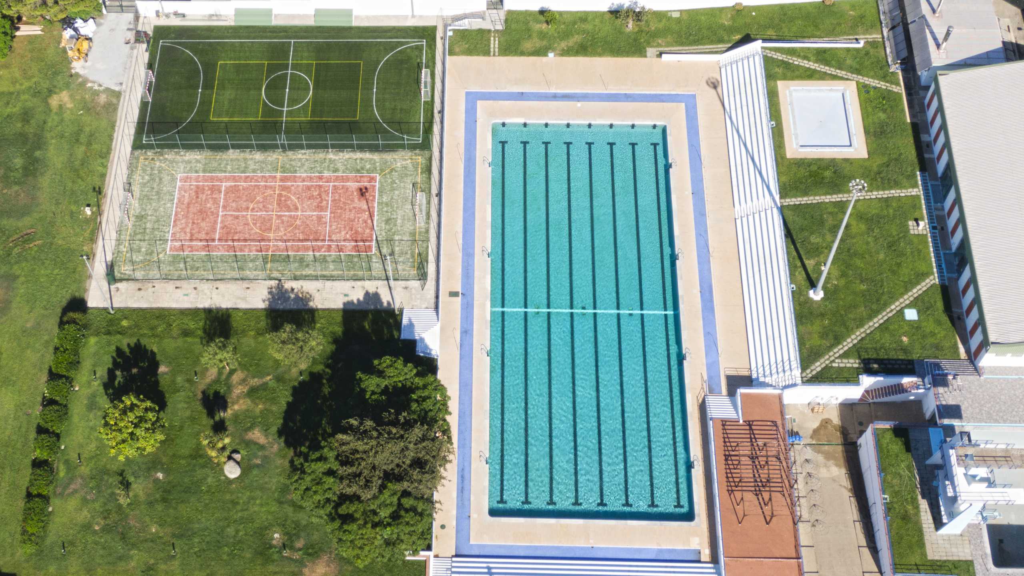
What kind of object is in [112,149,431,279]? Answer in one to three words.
tennis court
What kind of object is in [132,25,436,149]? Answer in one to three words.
sports court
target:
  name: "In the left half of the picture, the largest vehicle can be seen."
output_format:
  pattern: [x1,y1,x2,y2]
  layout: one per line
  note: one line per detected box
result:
[64,31,92,59]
